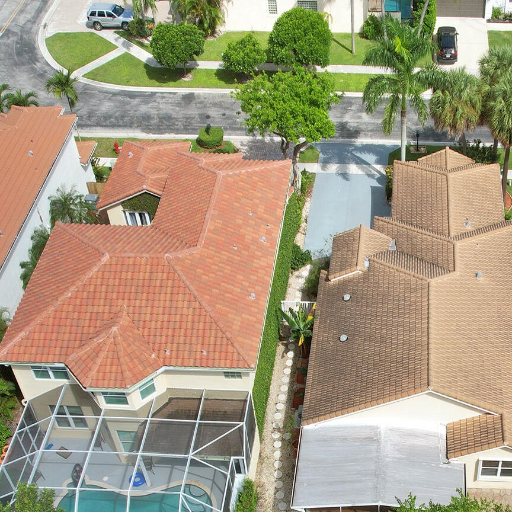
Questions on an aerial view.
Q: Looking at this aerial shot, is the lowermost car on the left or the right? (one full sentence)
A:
It is on the right.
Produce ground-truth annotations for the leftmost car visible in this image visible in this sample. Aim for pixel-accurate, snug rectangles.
[82,1,137,31]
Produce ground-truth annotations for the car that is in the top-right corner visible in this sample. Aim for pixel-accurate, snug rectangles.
[436,23,460,53]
